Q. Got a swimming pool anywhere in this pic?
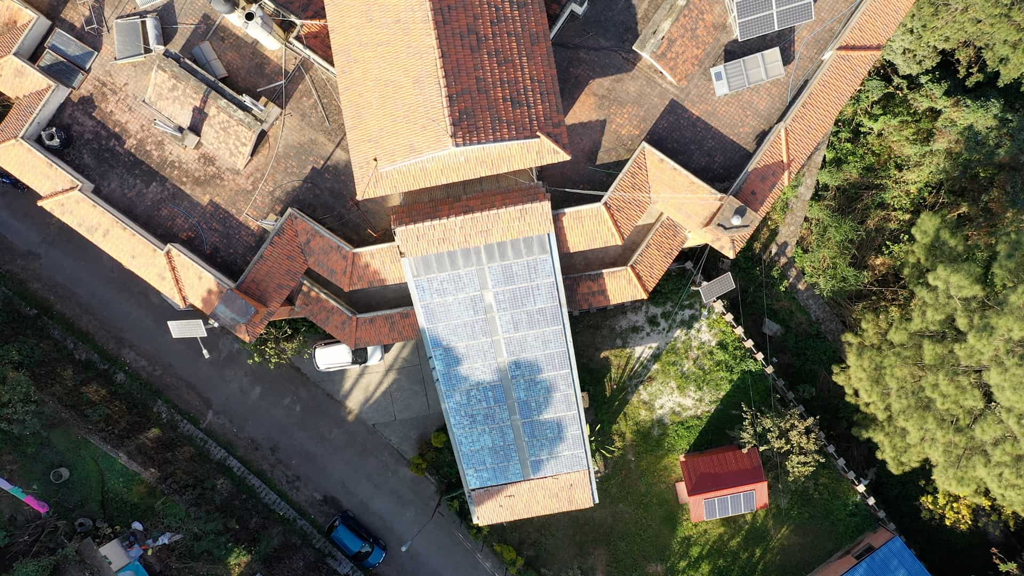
No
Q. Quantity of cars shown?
2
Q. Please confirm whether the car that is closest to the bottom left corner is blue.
Yes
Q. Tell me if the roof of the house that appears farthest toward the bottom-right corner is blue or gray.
blue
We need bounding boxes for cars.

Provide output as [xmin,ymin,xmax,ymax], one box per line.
[326,510,389,572]
[312,342,383,374]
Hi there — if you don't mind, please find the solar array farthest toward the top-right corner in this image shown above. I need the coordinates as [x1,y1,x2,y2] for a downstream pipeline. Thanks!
[726,0,815,54]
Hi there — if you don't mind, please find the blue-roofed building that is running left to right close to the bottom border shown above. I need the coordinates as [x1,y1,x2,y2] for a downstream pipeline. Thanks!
[803,521,931,576]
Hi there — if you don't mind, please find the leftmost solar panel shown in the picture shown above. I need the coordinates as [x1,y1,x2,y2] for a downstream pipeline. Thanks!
[167,320,207,338]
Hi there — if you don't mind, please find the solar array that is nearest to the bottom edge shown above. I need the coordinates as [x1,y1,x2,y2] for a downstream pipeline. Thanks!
[704,490,756,520]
